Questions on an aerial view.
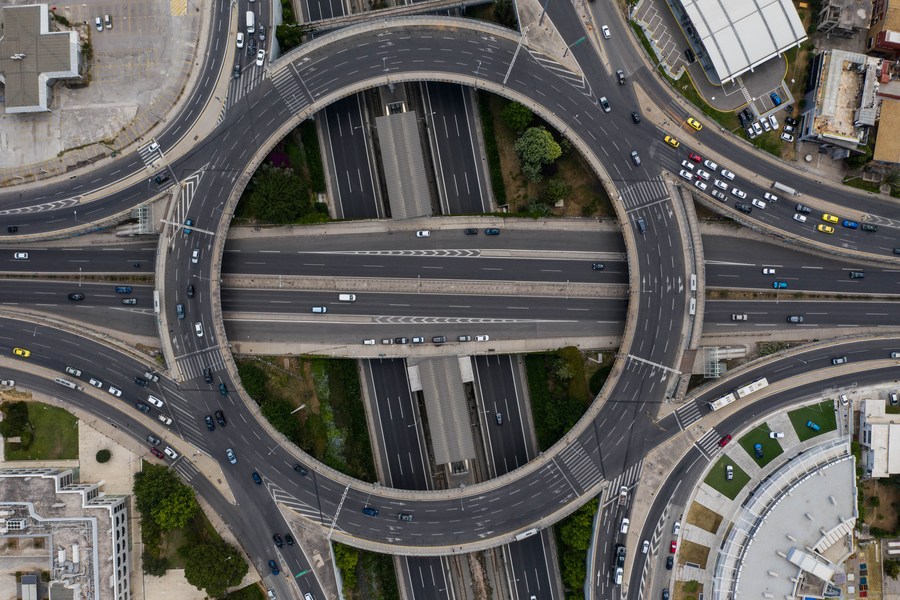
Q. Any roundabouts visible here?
Yes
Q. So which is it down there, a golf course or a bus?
bus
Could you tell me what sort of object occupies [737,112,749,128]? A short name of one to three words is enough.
vehicle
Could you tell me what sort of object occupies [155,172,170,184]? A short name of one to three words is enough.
vehicle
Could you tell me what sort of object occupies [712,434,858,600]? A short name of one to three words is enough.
building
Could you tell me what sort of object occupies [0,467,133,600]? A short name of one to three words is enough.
building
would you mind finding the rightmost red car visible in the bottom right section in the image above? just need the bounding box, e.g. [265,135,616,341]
[717,434,733,447]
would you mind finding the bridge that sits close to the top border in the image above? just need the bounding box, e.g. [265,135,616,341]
[294,0,482,34]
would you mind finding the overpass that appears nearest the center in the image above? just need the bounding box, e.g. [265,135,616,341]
[221,216,628,358]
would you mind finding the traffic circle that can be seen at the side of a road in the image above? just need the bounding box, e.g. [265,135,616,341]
[156,17,692,555]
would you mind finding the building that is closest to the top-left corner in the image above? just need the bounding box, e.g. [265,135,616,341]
[0,4,79,110]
